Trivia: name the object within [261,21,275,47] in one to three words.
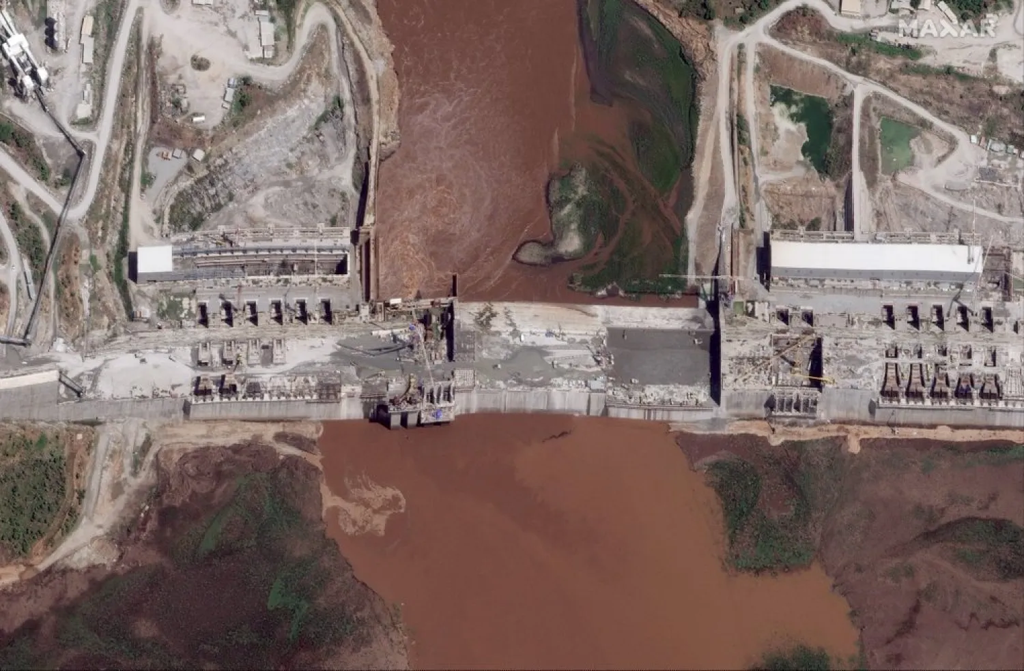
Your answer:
building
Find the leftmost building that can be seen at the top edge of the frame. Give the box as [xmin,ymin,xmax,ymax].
[0,2,49,97]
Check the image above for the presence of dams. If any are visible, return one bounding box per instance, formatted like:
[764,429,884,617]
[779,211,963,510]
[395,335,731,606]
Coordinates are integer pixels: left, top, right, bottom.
[0,300,1024,426]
